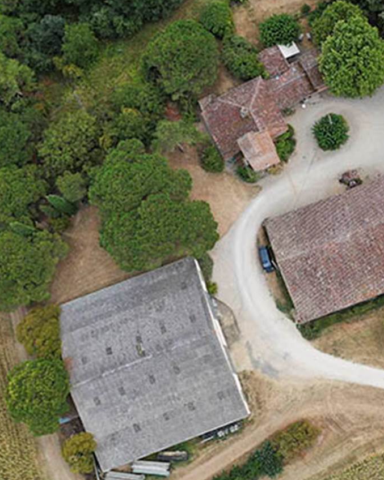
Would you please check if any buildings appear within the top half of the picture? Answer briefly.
Yes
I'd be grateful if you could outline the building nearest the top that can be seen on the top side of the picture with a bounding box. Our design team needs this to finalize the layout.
[197,45,325,175]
